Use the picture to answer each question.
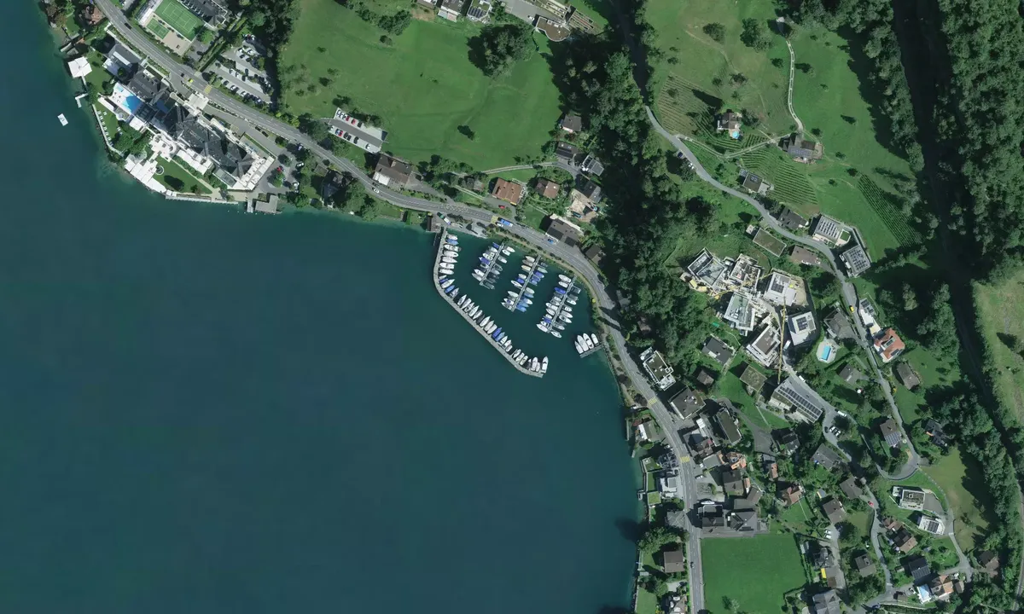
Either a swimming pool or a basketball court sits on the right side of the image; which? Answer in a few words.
swimming pool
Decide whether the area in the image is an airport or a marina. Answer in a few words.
marina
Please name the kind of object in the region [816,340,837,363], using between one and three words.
swimming pool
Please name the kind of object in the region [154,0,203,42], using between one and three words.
tennis court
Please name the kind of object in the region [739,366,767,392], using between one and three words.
building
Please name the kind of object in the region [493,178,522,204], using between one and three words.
house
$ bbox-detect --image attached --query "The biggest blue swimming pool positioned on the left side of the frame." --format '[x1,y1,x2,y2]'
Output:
[122,94,144,113]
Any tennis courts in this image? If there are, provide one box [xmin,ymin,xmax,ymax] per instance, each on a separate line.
[154,0,203,42]
[147,18,169,39]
